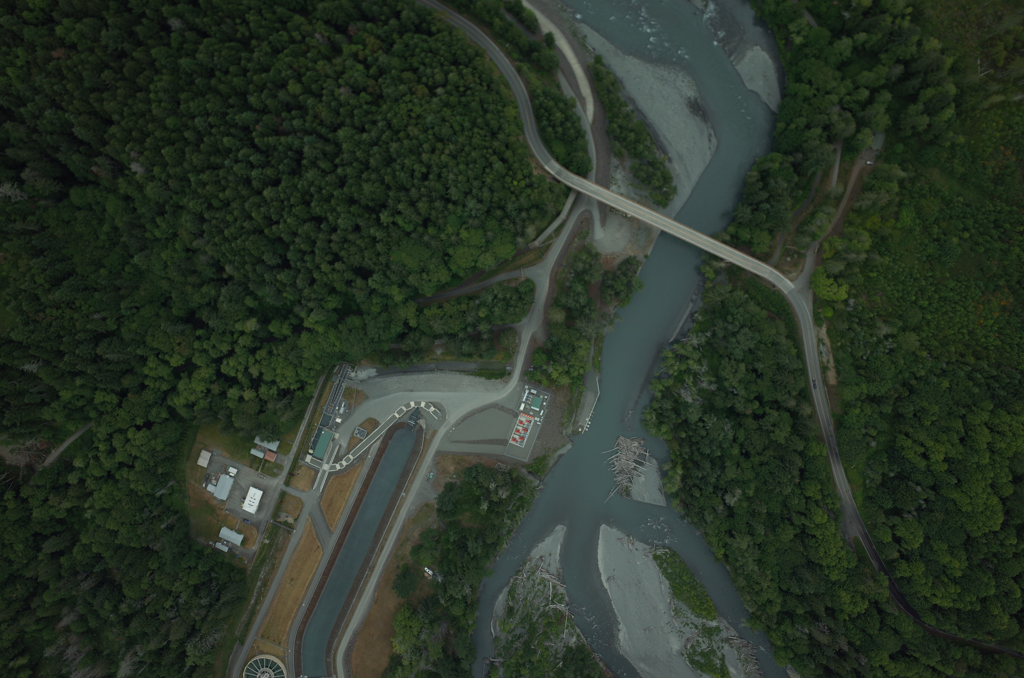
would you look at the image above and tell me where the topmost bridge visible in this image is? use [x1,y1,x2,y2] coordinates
[544,157,796,297]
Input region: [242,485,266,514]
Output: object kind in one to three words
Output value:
building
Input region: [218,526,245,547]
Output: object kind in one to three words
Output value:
house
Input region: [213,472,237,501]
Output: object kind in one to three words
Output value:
building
